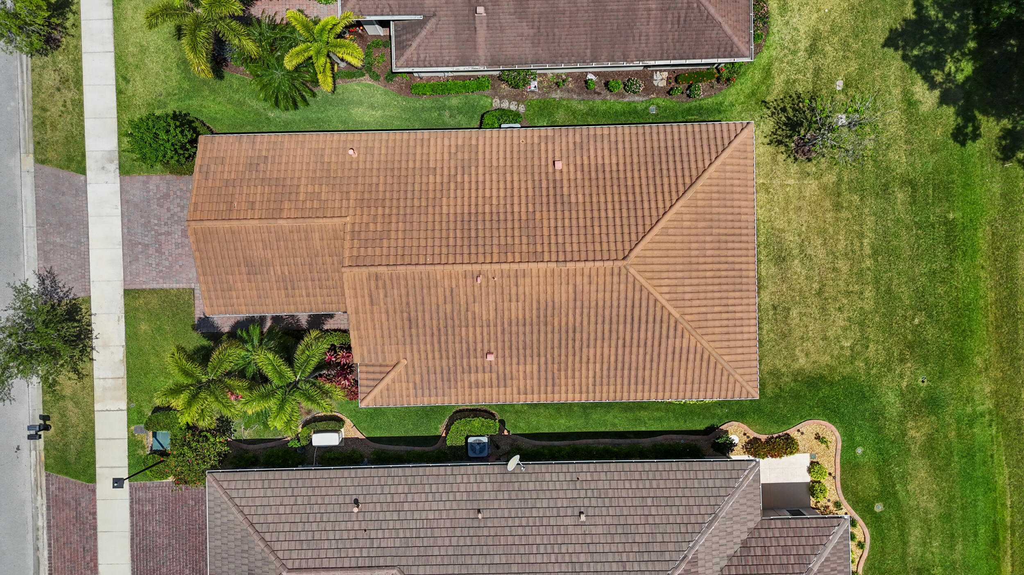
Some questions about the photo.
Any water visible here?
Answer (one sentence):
No, there is no water in the image.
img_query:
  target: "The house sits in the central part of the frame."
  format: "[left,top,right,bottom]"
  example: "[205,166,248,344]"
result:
[186,121,761,409]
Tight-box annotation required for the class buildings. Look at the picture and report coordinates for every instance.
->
[186,121,761,409]
[206,461,851,575]
[338,0,753,80]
